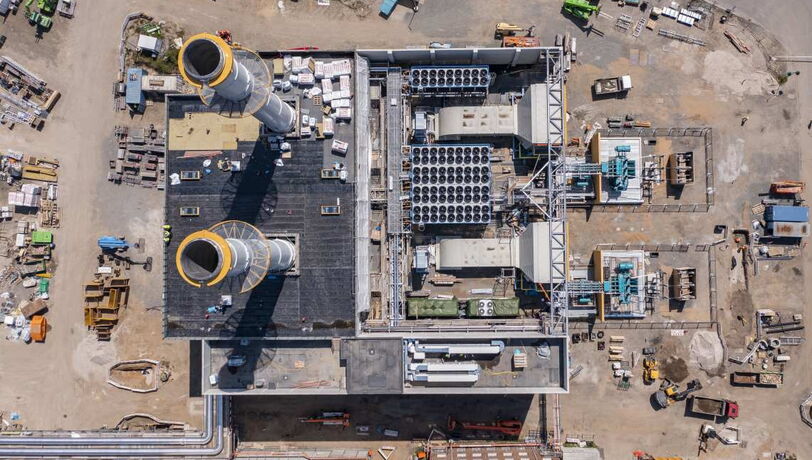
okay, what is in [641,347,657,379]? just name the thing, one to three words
work vehicle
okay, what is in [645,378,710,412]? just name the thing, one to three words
work vehicle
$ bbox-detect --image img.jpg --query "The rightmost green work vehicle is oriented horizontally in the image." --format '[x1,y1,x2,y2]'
[566,0,615,22]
